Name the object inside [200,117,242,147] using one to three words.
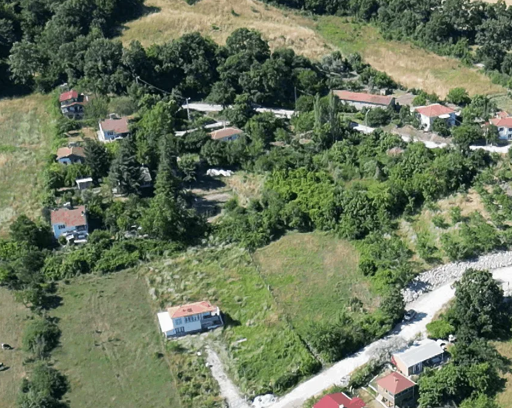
house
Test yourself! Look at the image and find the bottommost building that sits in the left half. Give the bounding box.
[155,295,222,340]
